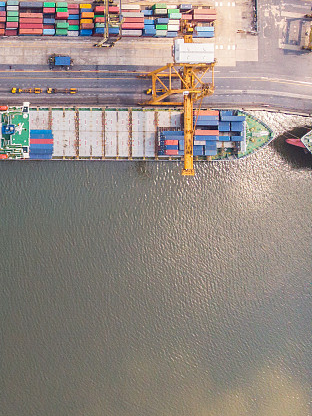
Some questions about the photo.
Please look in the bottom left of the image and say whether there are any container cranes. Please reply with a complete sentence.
No, I can find no container crane in the bottom left of the image.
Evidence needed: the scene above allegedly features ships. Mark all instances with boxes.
[286,126,312,153]
[0,102,274,163]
